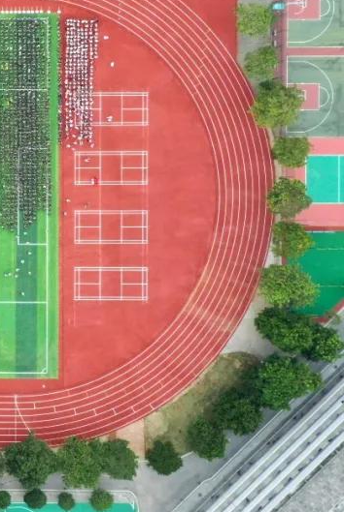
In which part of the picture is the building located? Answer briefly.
bottom right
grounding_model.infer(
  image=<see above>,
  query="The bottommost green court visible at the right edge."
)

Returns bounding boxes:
[276,226,344,323]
